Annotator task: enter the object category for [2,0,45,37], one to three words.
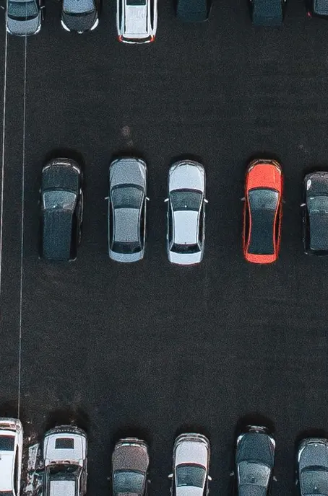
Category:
car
